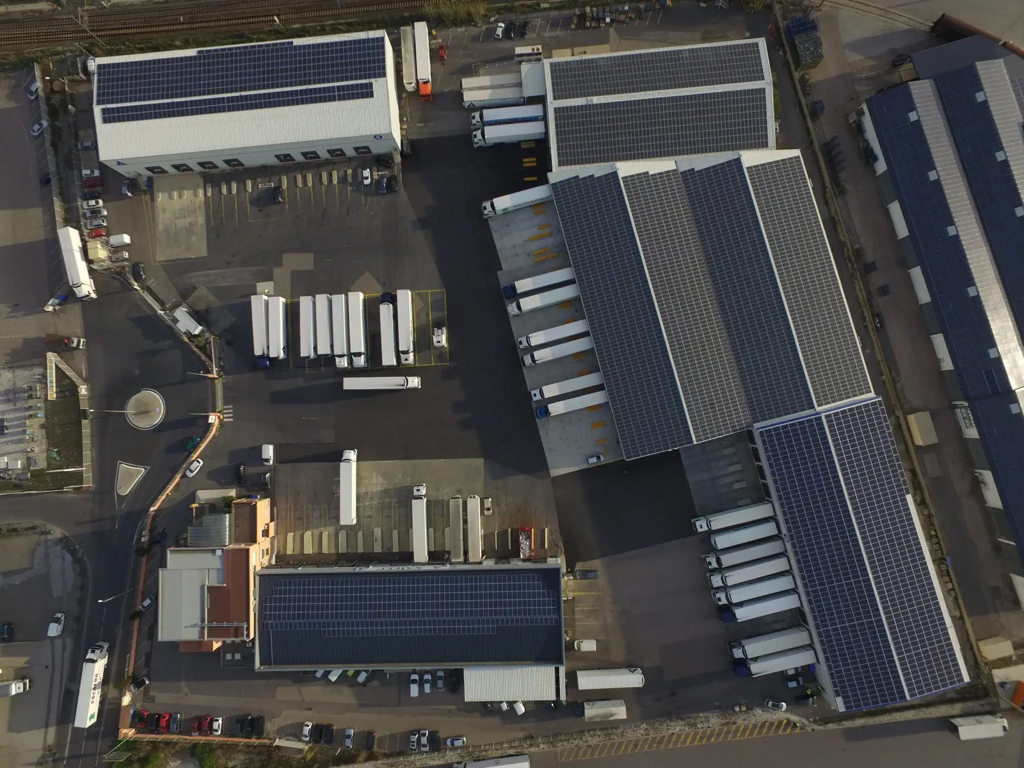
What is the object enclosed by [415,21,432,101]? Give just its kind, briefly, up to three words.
vehicle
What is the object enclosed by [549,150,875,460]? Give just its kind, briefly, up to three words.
warehouse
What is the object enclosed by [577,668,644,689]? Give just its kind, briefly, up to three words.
trailer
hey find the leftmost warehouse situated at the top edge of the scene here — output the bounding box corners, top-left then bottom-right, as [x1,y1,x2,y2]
[93,29,400,175]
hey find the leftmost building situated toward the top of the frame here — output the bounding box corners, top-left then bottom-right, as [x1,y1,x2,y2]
[87,241,108,261]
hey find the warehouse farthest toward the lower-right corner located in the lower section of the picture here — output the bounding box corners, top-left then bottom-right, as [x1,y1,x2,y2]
[744,395,971,713]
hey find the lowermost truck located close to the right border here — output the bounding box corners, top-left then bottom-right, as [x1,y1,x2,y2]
[949,716,1012,740]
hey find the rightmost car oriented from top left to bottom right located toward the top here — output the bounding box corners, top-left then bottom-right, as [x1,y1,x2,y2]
[375,155,395,171]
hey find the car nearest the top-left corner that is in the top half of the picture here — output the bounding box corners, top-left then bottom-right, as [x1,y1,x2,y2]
[26,81,41,98]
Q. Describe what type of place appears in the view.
industrial area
